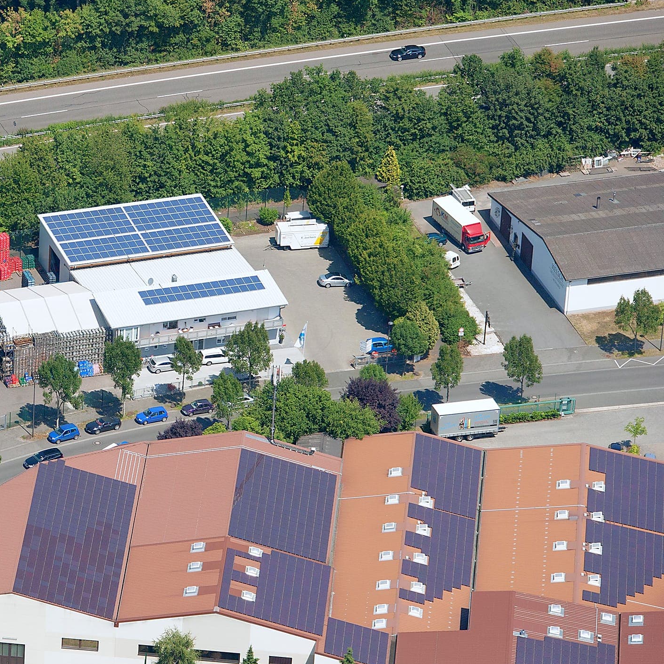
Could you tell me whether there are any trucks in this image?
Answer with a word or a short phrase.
Yes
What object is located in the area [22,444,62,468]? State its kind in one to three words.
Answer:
car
